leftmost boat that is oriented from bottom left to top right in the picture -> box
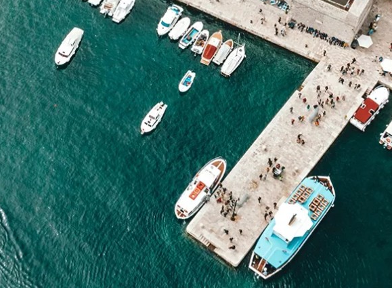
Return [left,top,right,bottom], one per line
[52,25,88,68]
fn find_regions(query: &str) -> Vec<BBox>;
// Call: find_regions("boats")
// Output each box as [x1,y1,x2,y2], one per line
[198,29,223,68]
[378,122,392,152]
[179,69,194,93]
[111,0,136,27]
[212,39,234,67]
[140,100,169,134]
[167,17,190,41]
[188,30,210,57]
[88,0,104,7]
[219,28,247,80]
[351,86,389,133]
[156,3,186,36]
[174,156,227,224]
[99,0,118,16]
[177,21,203,52]
[52,25,88,68]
